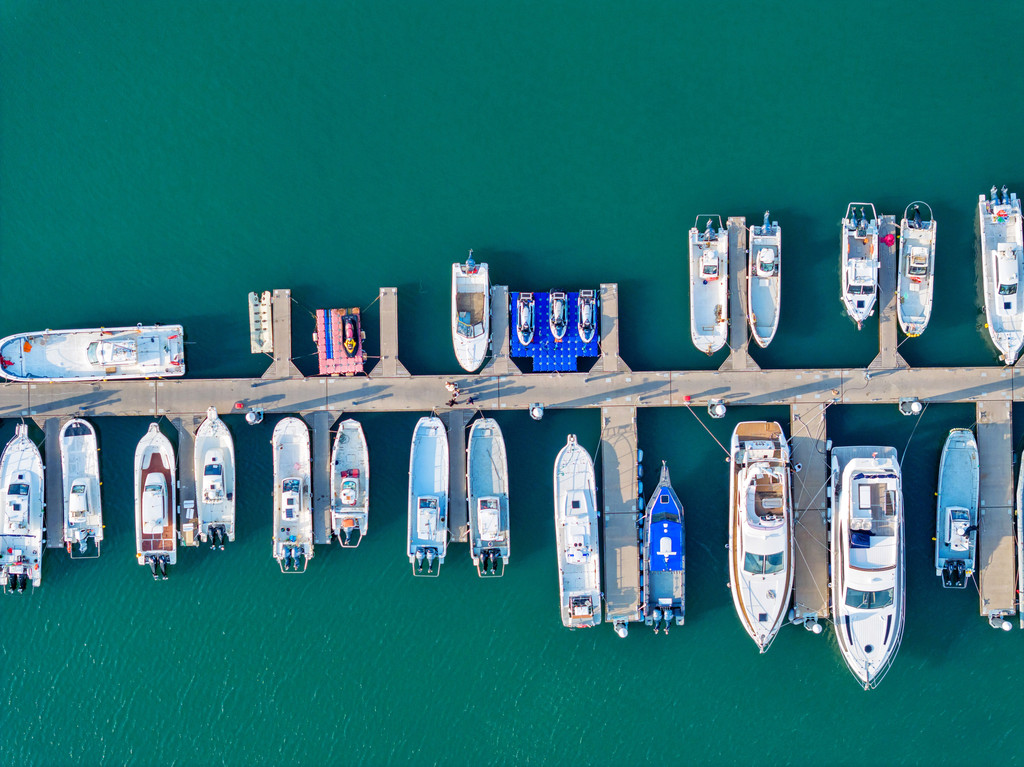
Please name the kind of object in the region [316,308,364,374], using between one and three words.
pier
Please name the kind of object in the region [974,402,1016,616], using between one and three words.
pier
